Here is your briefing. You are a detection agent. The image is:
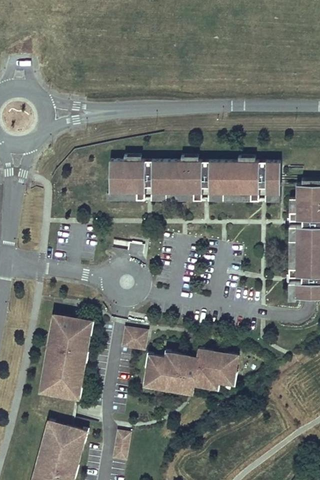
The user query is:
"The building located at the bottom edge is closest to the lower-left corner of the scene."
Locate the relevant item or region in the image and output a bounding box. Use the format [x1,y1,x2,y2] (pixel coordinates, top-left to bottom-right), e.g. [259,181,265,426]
[33,421,91,480]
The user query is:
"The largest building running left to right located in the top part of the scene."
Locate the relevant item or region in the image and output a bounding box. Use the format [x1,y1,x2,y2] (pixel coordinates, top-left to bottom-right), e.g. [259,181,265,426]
[108,154,281,202]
